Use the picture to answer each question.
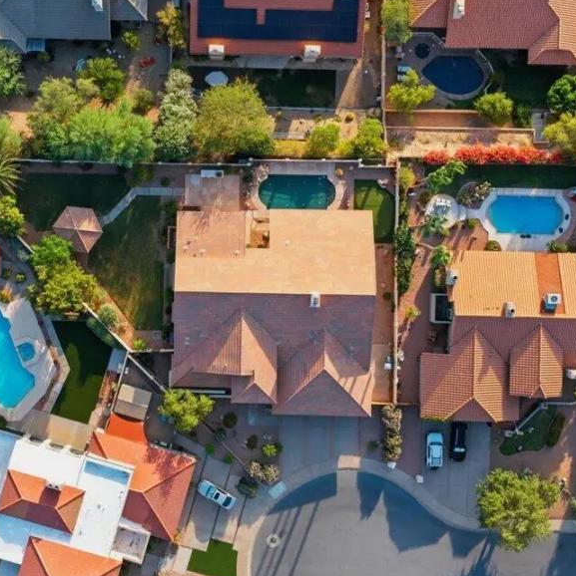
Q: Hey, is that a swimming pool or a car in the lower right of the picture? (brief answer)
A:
car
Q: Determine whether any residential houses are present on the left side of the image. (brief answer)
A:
Yes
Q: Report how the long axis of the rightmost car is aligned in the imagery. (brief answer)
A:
up and down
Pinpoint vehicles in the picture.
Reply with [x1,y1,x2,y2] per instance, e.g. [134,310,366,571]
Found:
[449,422,469,462]
[425,430,444,470]
[196,478,238,512]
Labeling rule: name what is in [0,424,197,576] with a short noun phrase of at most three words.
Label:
house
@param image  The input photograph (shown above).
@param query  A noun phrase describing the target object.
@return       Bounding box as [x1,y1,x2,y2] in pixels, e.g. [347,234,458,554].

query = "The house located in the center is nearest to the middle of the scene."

[170,168,376,417]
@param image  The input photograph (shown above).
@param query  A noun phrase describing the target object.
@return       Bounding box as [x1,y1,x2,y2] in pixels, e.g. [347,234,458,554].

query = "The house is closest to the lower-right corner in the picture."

[419,251,576,422]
